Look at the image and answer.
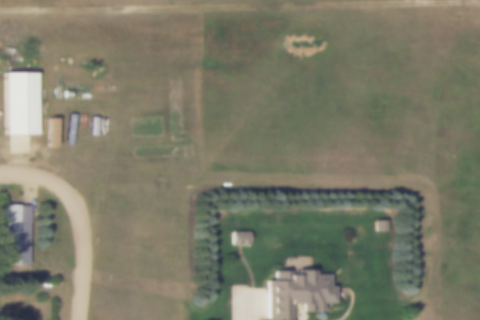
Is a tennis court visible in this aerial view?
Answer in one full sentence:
No, this view has no tennis court in it.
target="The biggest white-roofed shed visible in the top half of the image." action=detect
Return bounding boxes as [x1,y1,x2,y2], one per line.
[6,72,42,134]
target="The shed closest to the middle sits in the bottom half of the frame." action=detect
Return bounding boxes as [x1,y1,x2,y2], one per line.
[234,230,256,246]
